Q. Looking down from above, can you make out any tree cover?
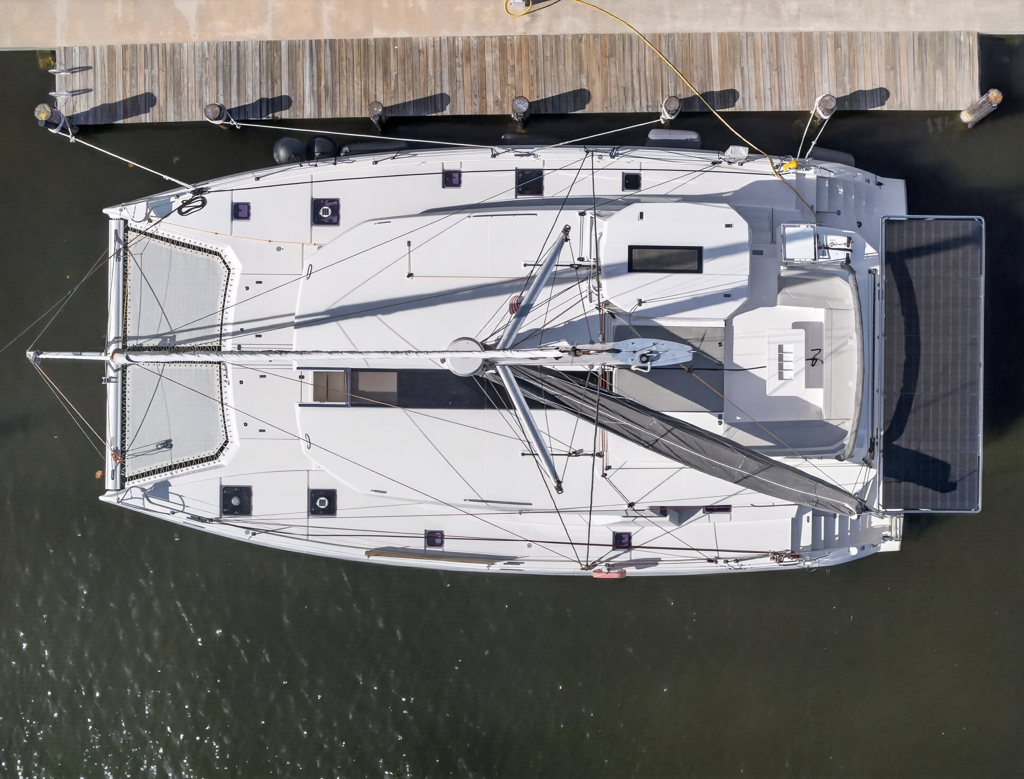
No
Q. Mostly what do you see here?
water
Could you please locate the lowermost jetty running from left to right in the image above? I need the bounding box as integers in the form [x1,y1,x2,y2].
[55,32,979,125]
